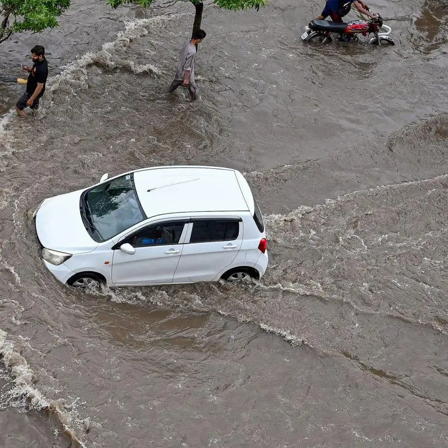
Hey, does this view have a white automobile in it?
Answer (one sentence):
Yes, I can see a white automobile in this picture.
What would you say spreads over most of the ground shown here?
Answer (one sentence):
The largest share of the image is taken up by water.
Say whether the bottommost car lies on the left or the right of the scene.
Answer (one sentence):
The bottommost car appears in the left half of the scene.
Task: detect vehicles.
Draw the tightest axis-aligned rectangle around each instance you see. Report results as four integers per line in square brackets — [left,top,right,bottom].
[35,163,269,283]
[301,0,401,48]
